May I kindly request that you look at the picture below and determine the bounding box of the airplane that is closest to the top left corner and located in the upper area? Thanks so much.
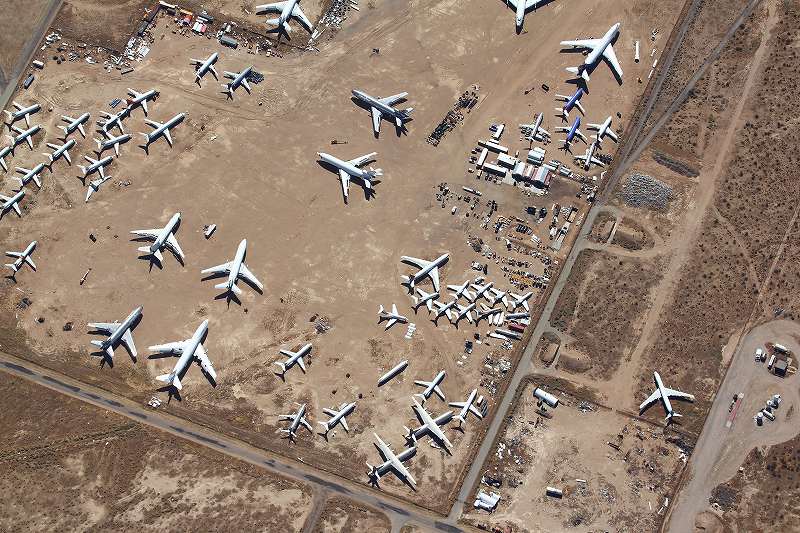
[9,102,40,125]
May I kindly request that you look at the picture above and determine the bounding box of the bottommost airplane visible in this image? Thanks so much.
[368,435,418,487]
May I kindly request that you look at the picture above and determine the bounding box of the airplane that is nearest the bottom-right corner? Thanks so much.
[639,372,693,419]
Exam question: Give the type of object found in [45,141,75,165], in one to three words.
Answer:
airplane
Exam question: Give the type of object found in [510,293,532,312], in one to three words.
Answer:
airplane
